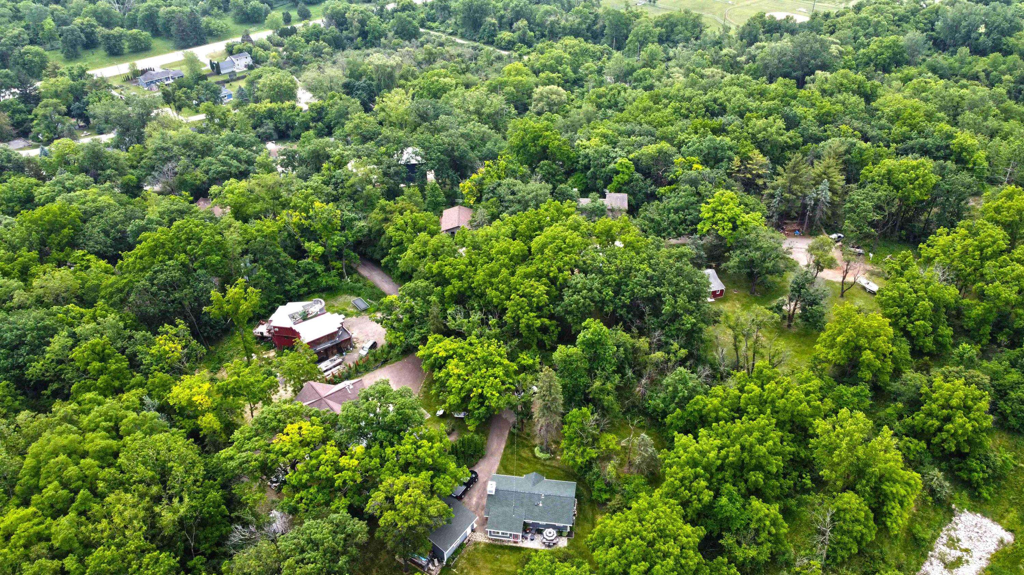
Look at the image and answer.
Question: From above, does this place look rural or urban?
rural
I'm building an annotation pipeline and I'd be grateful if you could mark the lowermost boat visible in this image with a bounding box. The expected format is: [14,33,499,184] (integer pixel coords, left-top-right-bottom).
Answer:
[857,274,877,291]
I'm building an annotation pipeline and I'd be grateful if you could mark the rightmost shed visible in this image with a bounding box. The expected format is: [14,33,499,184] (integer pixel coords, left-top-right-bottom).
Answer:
[700,273,726,298]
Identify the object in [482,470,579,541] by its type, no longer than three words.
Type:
building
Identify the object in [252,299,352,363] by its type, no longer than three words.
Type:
house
